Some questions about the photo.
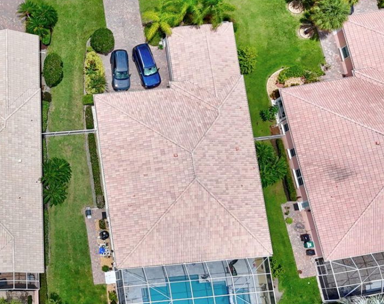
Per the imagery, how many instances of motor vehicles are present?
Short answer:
2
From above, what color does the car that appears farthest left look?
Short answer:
blue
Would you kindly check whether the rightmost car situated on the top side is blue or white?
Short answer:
blue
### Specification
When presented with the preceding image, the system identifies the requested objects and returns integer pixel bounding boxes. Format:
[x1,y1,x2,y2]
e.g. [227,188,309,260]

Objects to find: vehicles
[133,45,159,87]
[110,50,131,89]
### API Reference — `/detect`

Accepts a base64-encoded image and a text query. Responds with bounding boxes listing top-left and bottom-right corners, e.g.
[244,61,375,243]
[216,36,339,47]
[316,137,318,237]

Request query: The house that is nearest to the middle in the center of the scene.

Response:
[92,20,277,271]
